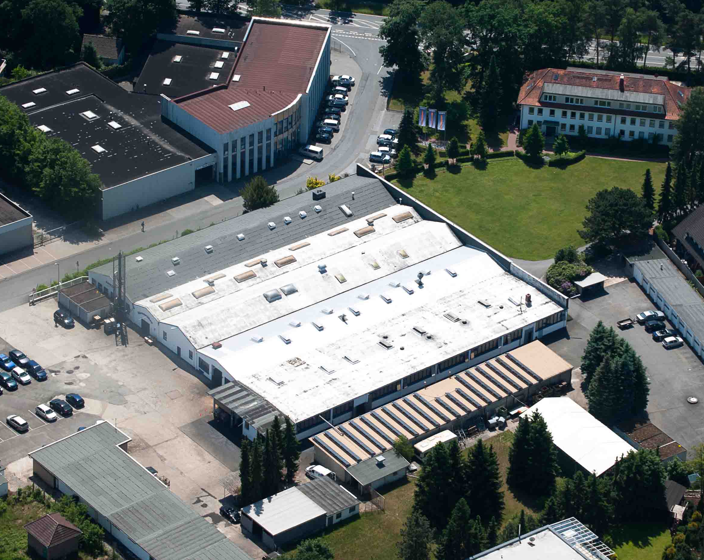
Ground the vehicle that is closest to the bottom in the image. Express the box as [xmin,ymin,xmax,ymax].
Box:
[219,507,242,525]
